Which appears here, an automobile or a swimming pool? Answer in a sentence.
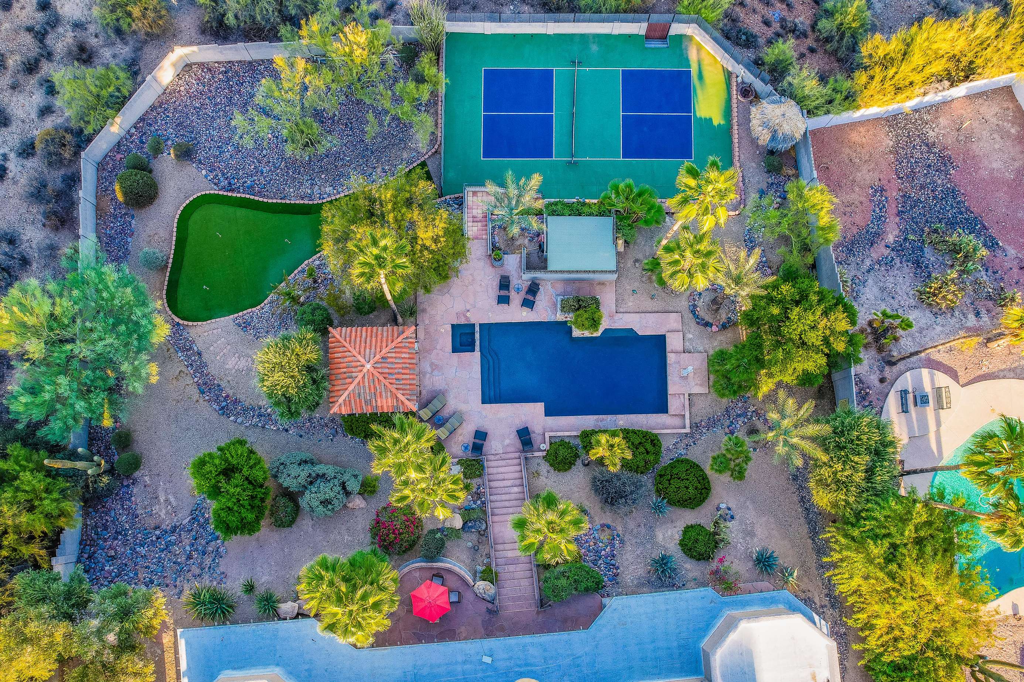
The image shows a swimming pool.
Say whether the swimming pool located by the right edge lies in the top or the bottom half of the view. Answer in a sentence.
Seen from above, the swimming pool located by the right edge lies in the bottom half of the view.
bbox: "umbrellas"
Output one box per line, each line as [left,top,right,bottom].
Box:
[411,581,450,622]
[752,89,811,147]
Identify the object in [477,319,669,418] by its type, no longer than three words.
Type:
swimming pool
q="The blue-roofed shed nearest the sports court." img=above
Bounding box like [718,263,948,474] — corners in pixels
[522,212,621,280]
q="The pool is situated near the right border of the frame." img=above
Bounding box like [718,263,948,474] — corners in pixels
[927,410,1024,604]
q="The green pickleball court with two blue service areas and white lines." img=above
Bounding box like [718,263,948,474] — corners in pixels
[442,34,733,201]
